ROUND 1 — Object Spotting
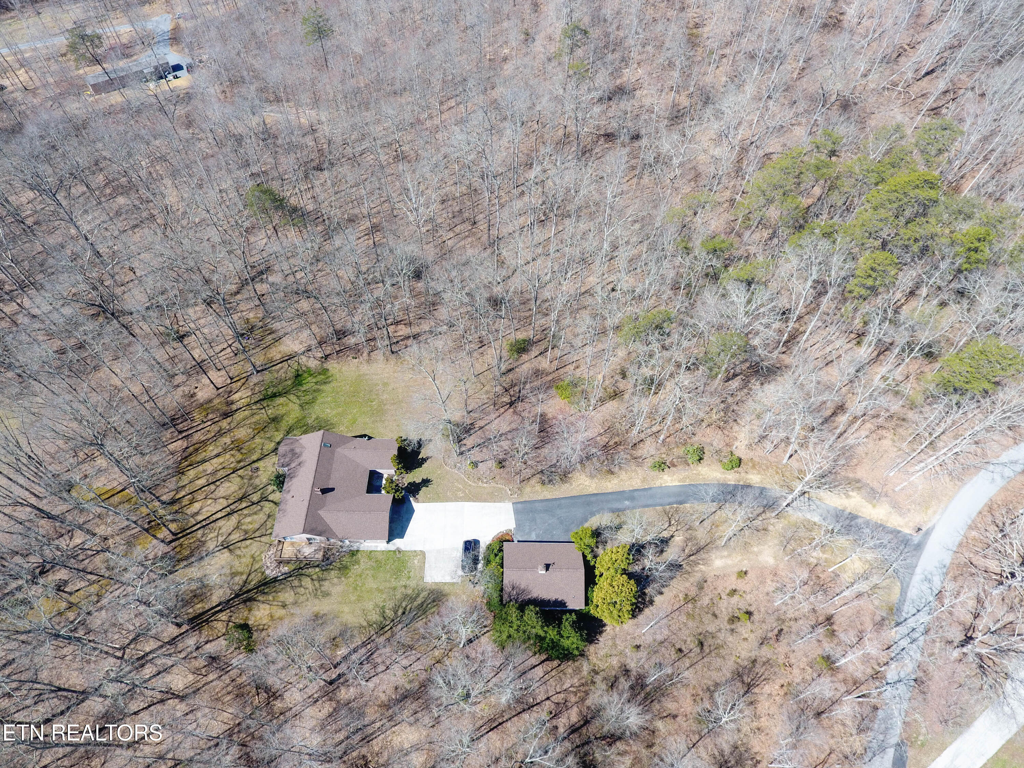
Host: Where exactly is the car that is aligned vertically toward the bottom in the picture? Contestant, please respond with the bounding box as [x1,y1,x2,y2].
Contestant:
[459,542,474,574]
